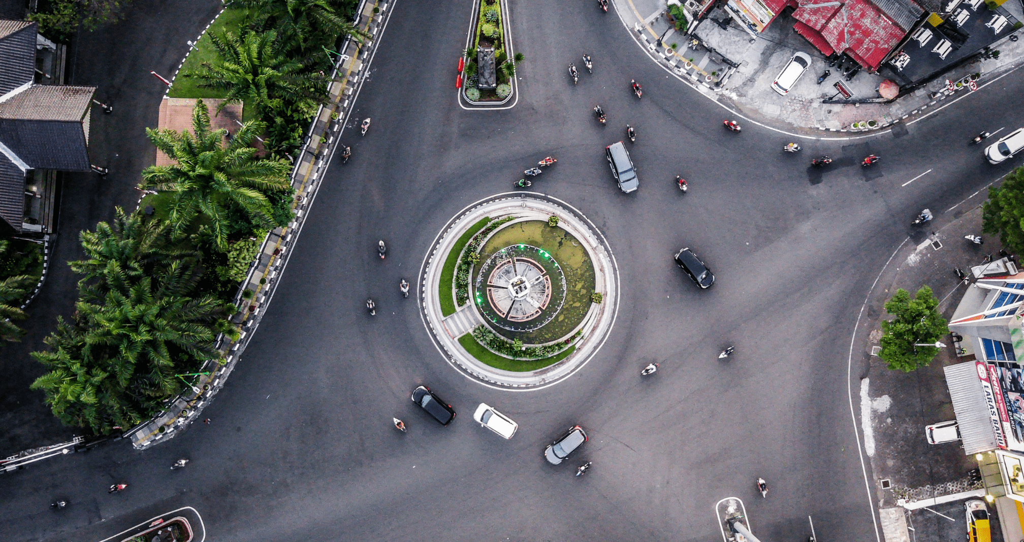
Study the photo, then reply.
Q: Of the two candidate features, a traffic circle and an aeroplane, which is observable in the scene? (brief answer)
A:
traffic circle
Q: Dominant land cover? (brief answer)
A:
paved ground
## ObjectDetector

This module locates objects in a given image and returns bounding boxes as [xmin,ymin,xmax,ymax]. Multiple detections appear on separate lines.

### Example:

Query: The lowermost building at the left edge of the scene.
[0,18,114,235]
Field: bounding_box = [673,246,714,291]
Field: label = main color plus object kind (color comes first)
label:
black car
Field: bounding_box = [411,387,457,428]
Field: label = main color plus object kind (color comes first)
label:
black car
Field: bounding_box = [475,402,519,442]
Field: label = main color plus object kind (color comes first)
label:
white car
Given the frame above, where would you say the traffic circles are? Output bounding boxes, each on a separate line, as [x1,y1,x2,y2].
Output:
[423,197,614,387]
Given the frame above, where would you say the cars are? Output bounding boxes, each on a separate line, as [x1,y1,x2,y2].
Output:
[605,142,638,194]
[545,425,588,465]
[673,246,714,291]
[923,420,963,445]
[771,51,810,97]
[981,123,1024,164]
[475,402,519,442]
[963,499,998,542]
[411,387,457,428]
